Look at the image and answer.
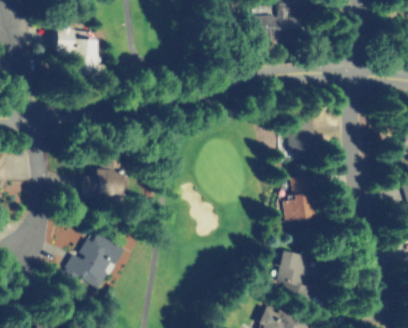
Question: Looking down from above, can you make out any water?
No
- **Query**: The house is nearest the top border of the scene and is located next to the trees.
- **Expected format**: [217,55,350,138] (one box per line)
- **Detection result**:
[251,1,300,35]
